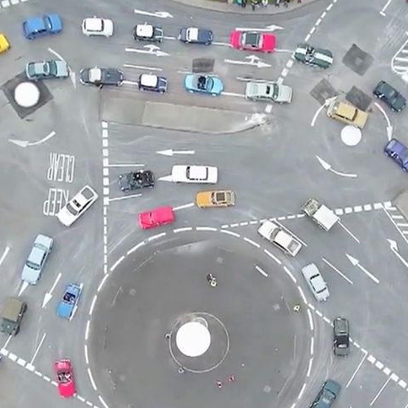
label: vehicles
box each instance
[301,261,329,302]
[178,25,213,47]
[116,170,154,191]
[256,219,302,257]
[242,79,292,103]
[81,18,113,38]
[25,59,70,82]
[136,72,168,95]
[310,378,339,408]
[331,317,350,357]
[0,33,13,56]
[324,97,369,127]
[227,28,276,55]
[132,21,164,44]
[79,65,123,87]
[57,282,81,321]
[369,77,408,115]
[21,12,64,42]
[0,295,28,338]
[382,135,408,176]
[23,234,52,285]
[291,42,332,70]
[181,72,224,98]
[136,208,176,228]
[298,196,344,232]
[57,181,98,229]
[170,164,217,184]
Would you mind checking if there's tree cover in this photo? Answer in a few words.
No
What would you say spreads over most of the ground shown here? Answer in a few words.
paved ground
